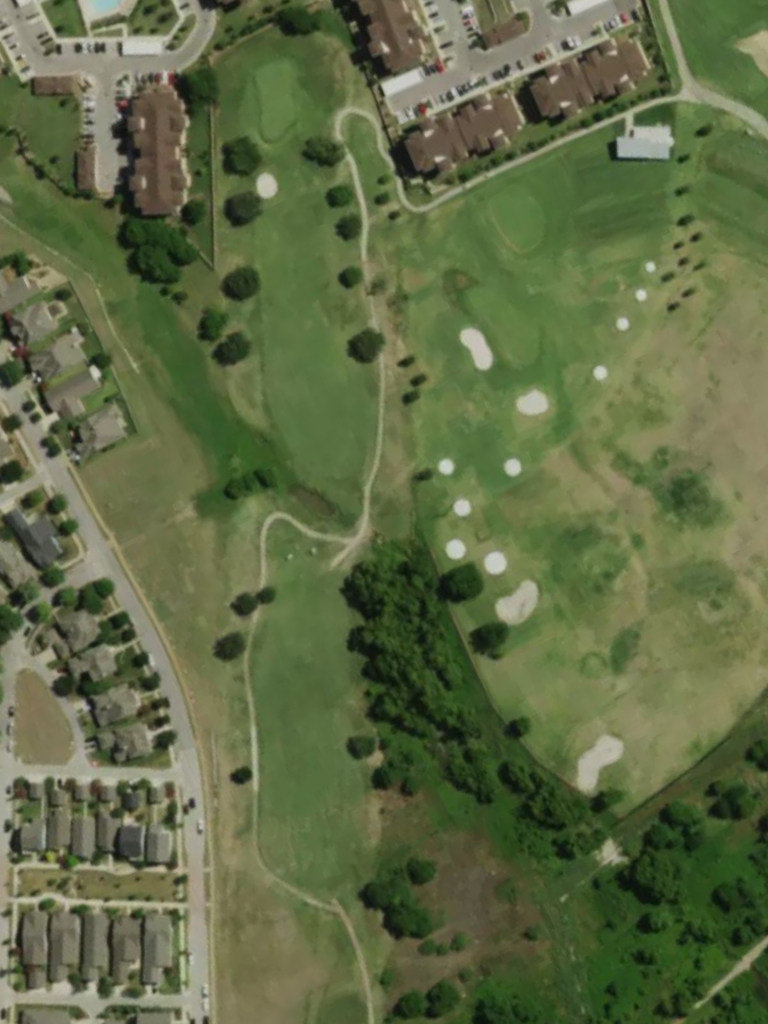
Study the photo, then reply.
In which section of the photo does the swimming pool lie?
top left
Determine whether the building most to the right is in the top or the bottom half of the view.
top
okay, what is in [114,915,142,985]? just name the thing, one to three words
house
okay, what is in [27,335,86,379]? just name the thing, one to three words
house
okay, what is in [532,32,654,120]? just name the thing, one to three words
building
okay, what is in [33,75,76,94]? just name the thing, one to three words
building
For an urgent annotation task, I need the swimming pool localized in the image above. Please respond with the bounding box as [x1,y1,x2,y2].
[82,0,138,22]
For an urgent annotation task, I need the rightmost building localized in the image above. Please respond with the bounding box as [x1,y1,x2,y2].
[617,126,675,158]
